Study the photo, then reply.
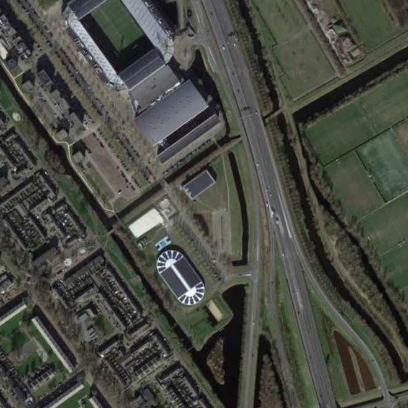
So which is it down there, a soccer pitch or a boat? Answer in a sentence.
It is a soccer pitch that can be seen here.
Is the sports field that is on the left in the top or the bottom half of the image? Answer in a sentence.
The top half of the photo is where the sports field that is on the left is.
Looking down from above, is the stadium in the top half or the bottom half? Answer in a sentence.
The top half of the photo is where the stadium is.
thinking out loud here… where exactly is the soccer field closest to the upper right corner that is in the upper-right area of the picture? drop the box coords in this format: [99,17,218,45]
[358,71,408,131]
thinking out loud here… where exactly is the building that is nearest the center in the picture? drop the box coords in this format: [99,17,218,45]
[183,170,216,199]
